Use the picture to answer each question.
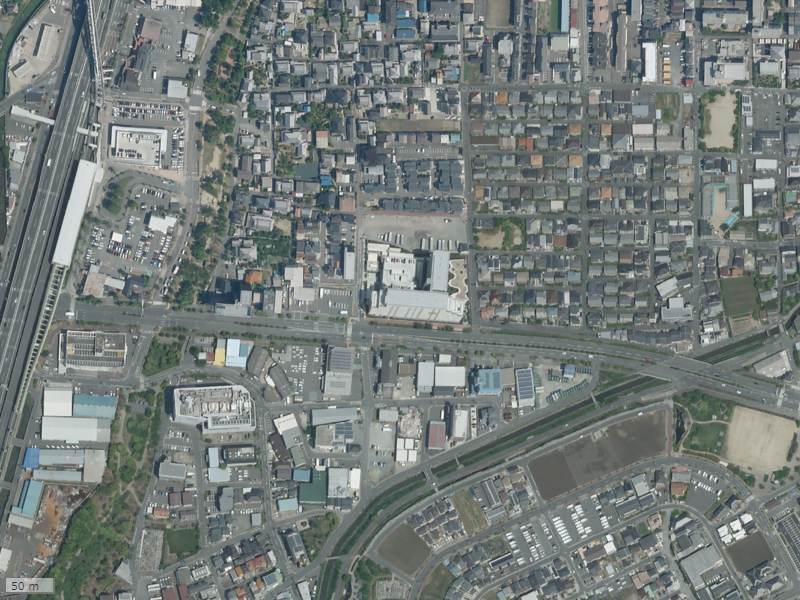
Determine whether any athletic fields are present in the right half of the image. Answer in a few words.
Yes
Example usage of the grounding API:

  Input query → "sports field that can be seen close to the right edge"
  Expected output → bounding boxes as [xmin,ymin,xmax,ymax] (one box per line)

[724,406,796,471]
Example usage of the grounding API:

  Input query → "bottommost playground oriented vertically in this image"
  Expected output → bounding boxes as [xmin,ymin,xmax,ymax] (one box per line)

[711,188,733,247]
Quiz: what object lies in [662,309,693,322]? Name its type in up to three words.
building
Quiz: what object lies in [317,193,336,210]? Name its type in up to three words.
house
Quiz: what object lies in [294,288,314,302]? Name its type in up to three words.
building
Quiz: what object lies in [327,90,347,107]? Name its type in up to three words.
house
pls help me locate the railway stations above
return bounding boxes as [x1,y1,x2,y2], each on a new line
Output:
[50,159,103,267]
